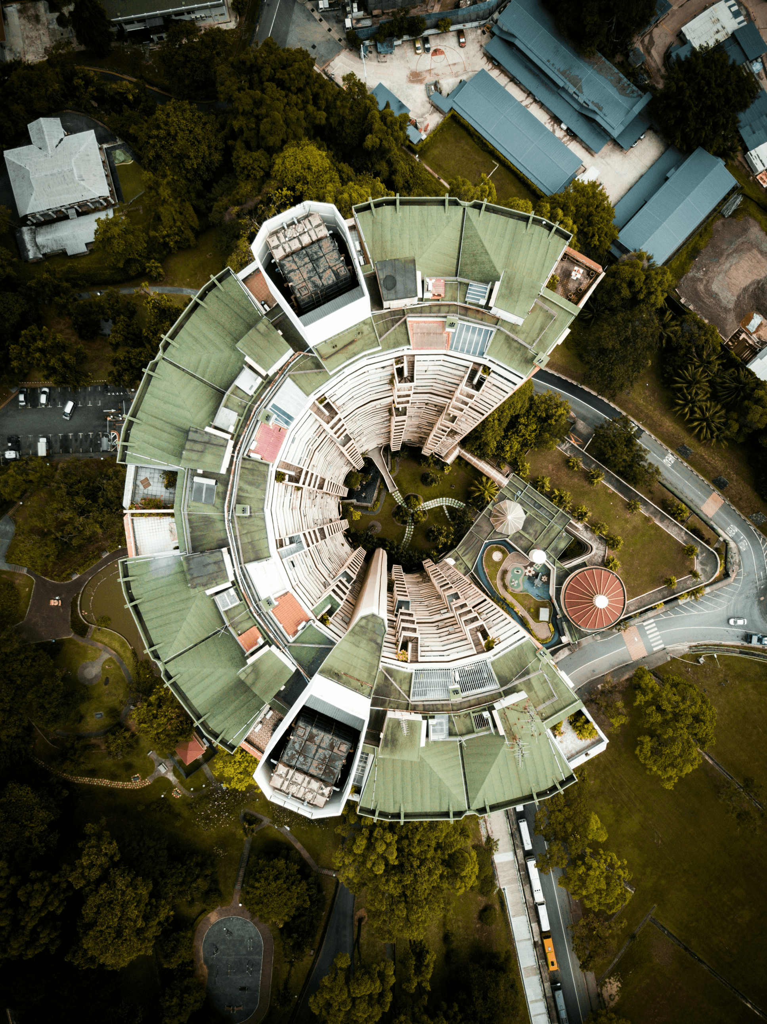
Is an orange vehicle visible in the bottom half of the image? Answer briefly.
Yes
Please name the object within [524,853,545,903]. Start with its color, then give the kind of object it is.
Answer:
white bus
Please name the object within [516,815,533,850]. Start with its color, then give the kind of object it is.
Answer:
white vehicle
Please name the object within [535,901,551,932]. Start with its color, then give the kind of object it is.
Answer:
white vehicle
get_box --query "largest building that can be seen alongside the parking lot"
[115,193,609,825]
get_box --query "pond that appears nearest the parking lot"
[80,562,160,672]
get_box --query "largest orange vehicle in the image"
[540,931,559,971]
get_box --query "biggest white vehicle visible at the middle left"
[37,438,50,457]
